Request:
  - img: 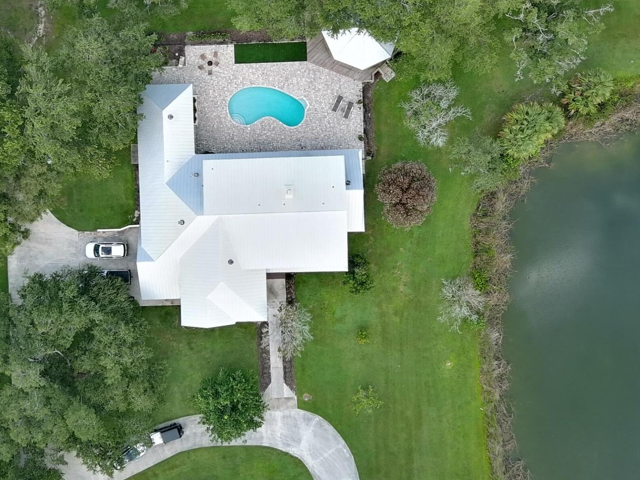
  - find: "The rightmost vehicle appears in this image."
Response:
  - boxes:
[146,424,185,449]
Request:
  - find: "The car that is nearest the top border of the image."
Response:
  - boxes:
[85,241,127,261]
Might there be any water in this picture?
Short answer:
Yes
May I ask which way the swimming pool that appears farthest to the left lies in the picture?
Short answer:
horizontally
